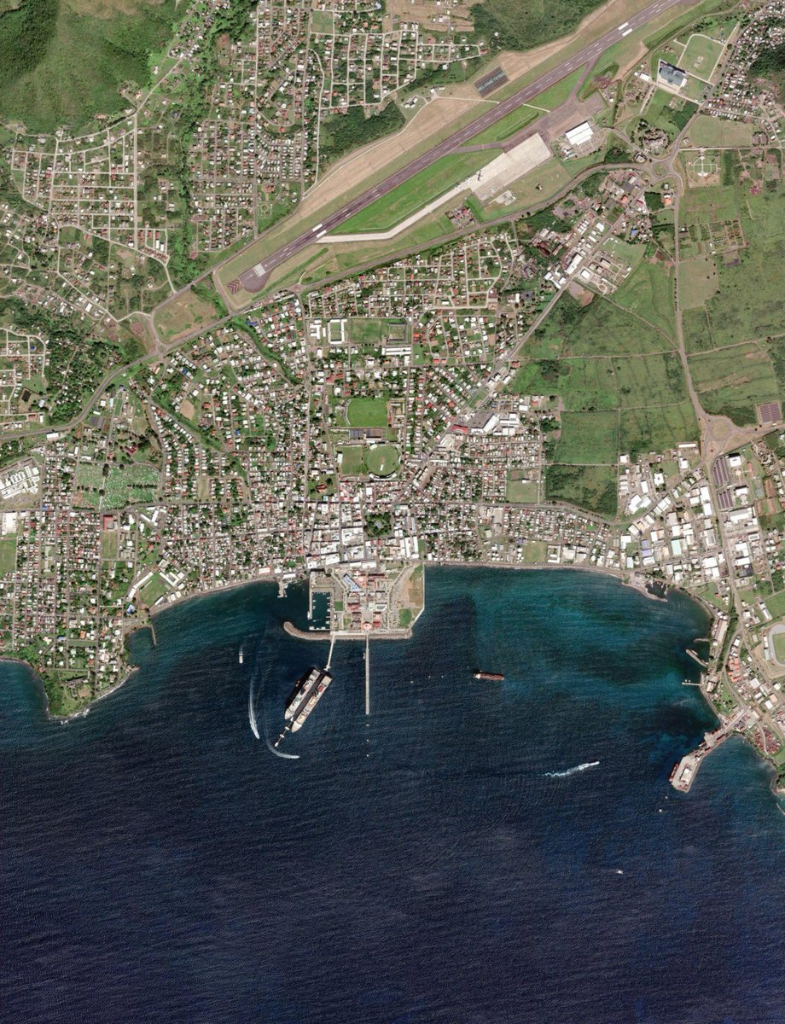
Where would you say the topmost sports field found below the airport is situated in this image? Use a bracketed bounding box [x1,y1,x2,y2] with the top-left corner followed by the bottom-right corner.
[351,320,381,343]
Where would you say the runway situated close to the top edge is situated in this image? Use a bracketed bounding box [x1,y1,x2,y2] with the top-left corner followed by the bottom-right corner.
[230,0,679,293]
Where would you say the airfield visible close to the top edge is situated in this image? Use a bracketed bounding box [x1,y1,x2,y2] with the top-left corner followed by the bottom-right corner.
[228,0,681,293]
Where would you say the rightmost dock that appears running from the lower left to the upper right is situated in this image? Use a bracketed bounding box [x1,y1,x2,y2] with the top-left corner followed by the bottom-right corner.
[672,710,757,792]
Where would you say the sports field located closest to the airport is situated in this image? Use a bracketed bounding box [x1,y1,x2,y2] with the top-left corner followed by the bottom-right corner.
[680,35,723,79]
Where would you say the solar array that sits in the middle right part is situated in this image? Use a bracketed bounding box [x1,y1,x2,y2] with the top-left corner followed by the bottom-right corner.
[756,401,783,425]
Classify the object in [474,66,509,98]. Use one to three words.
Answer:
solar array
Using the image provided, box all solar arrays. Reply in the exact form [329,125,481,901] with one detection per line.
[474,66,509,98]
[756,401,783,425]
